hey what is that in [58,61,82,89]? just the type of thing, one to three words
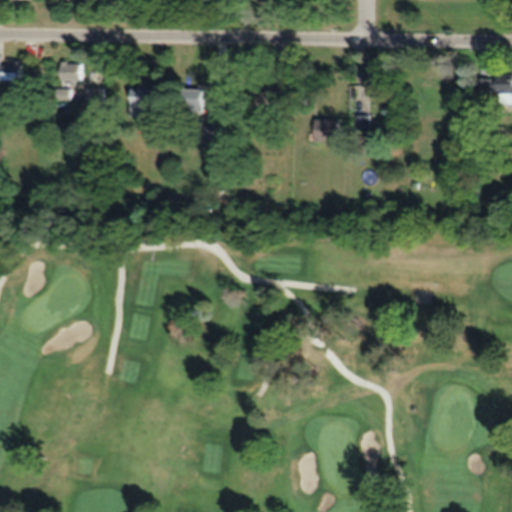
house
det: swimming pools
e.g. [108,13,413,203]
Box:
[362,170,378,186]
